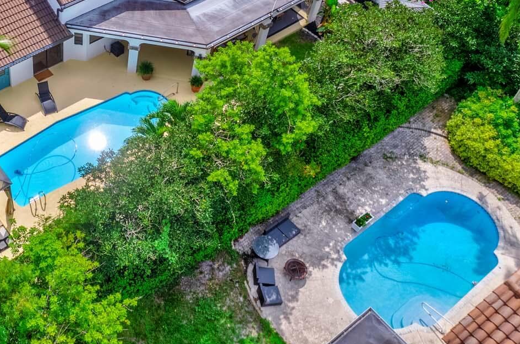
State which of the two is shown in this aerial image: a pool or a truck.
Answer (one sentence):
Of the two, only a pool appears.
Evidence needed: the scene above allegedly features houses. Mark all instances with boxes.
[0,0,321,90]
[434,264,520,344]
